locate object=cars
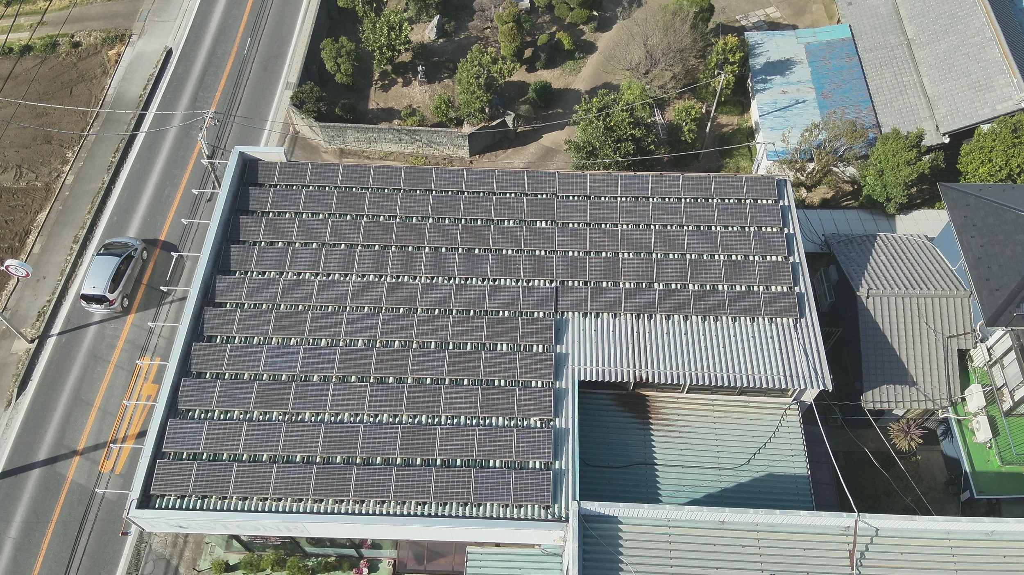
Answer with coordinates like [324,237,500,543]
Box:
[75,239,147,317]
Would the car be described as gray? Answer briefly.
Yes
